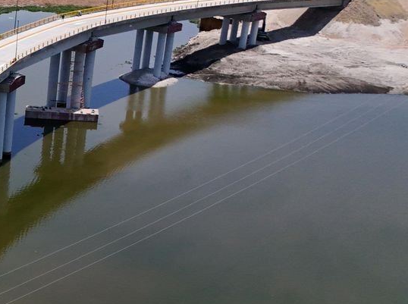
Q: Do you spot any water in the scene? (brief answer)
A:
Yes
